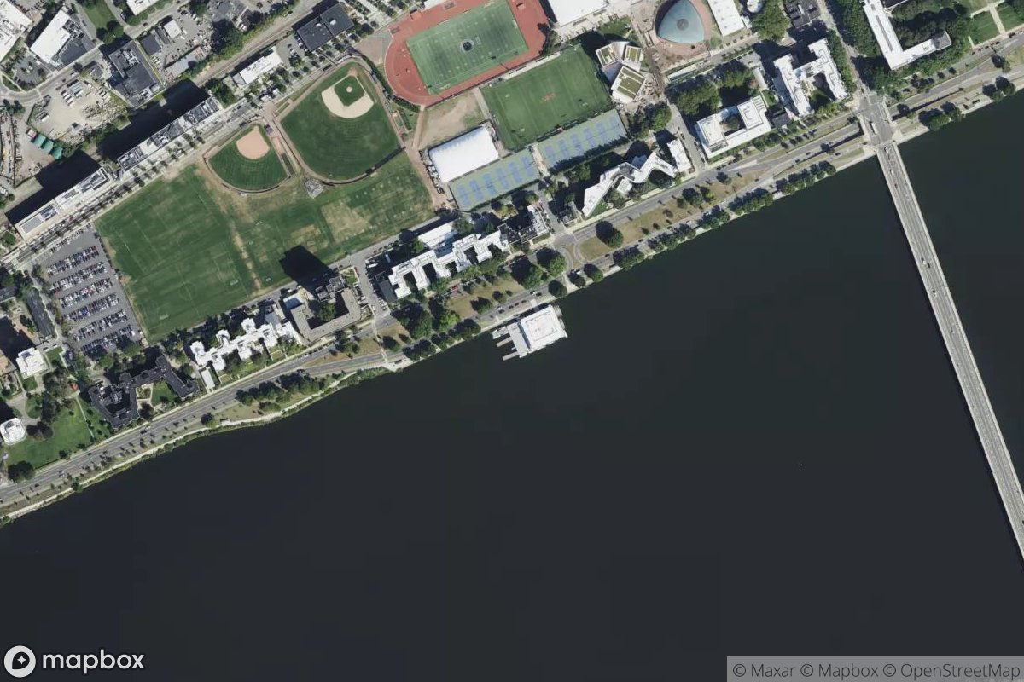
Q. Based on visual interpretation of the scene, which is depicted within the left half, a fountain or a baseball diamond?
baseball diamond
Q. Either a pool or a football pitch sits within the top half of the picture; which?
football pitch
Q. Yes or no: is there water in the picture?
Yes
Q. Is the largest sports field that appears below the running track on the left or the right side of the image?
left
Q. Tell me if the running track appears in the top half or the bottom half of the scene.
top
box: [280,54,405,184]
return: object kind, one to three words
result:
baseball field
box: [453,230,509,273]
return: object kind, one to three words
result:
building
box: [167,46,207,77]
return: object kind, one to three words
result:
shed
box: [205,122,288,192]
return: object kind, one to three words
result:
baseball field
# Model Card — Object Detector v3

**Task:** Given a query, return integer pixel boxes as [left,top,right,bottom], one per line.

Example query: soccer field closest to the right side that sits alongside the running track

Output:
[482,41,611,151]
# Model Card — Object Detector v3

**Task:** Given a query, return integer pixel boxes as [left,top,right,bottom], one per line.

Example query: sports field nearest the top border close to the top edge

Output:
[406,0,528,94]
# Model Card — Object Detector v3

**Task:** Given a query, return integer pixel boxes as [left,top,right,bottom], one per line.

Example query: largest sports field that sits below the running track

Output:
[89,151,435,340]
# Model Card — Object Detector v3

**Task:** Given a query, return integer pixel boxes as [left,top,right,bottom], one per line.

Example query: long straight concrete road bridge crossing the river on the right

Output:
[877,145,1024,558]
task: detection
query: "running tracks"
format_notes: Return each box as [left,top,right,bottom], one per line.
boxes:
[387,0,546,102]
